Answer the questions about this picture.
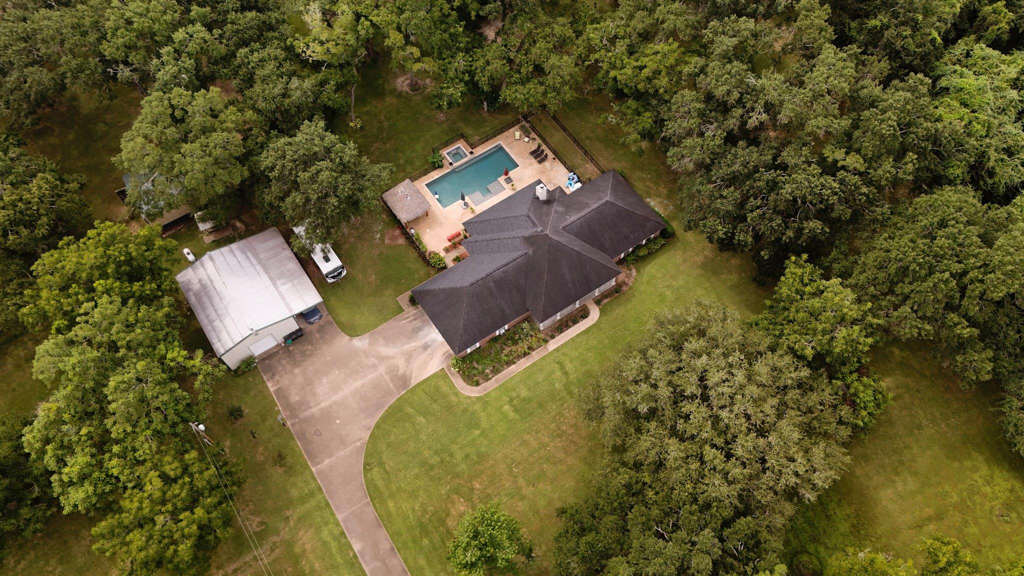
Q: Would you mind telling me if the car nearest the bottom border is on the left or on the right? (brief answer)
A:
left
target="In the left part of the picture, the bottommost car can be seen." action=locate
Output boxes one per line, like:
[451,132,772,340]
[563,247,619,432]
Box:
[300,305,323,325]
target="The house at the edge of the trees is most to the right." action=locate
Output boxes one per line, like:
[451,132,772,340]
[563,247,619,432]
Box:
[411,169,667,358]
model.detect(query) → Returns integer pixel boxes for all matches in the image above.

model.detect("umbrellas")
[503,168,512,183]
[460,194,469,209]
